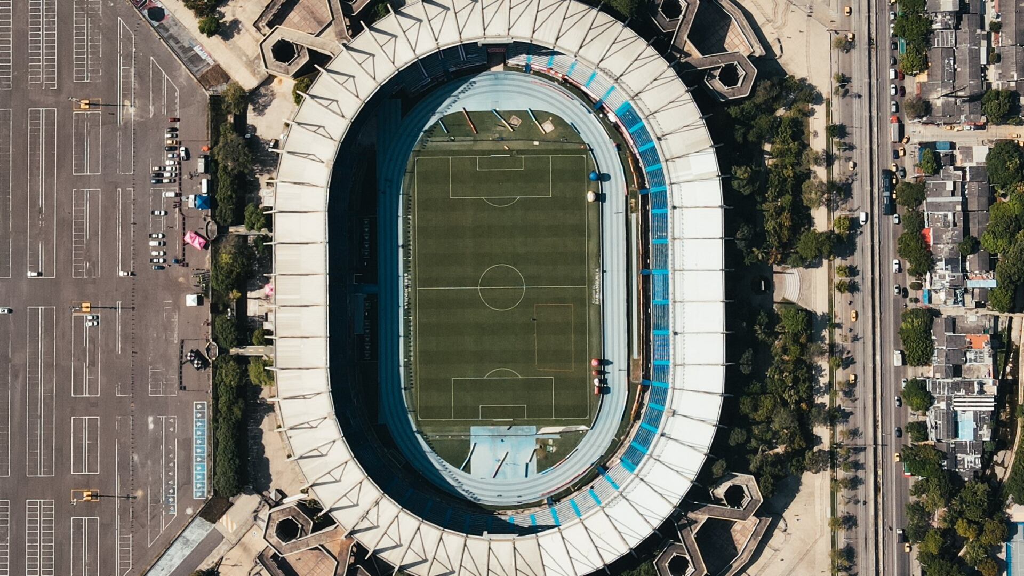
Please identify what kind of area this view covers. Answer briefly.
sports ground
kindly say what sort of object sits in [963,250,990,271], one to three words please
house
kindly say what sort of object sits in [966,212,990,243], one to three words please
house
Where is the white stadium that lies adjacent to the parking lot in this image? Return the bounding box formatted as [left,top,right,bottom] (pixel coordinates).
[262,0,735,576]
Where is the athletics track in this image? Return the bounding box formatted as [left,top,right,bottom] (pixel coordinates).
[377,71,642,505]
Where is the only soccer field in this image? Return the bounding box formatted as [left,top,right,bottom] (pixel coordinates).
[415,147,590,426]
